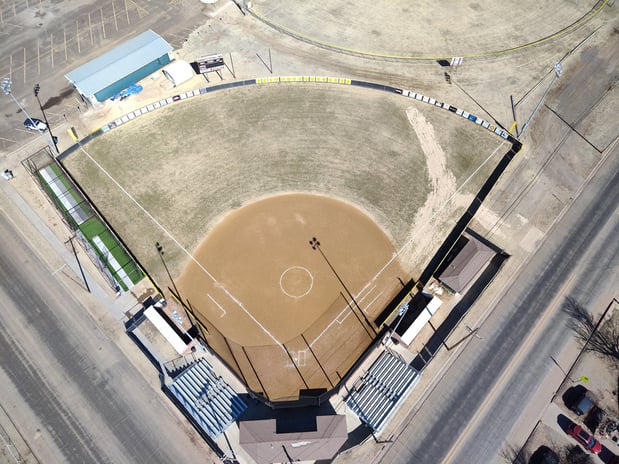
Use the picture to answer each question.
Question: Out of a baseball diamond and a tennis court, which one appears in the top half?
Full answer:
You can see a baseball diamond in the top half.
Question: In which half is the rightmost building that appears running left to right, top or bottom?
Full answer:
The rightmost building that appears running left to right sits in the bottom half of the picture.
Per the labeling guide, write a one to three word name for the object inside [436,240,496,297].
shed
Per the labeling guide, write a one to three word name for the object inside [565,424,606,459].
car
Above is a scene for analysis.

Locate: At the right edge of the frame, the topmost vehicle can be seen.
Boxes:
[568,385,604,417]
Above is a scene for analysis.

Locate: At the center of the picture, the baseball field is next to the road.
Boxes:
[59,81,519,406]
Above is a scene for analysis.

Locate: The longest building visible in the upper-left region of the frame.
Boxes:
[64,30,177,111]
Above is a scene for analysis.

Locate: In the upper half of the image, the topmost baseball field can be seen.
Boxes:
[243,0,610,60]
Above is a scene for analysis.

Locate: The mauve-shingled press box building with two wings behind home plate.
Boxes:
[239,416,348,464]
